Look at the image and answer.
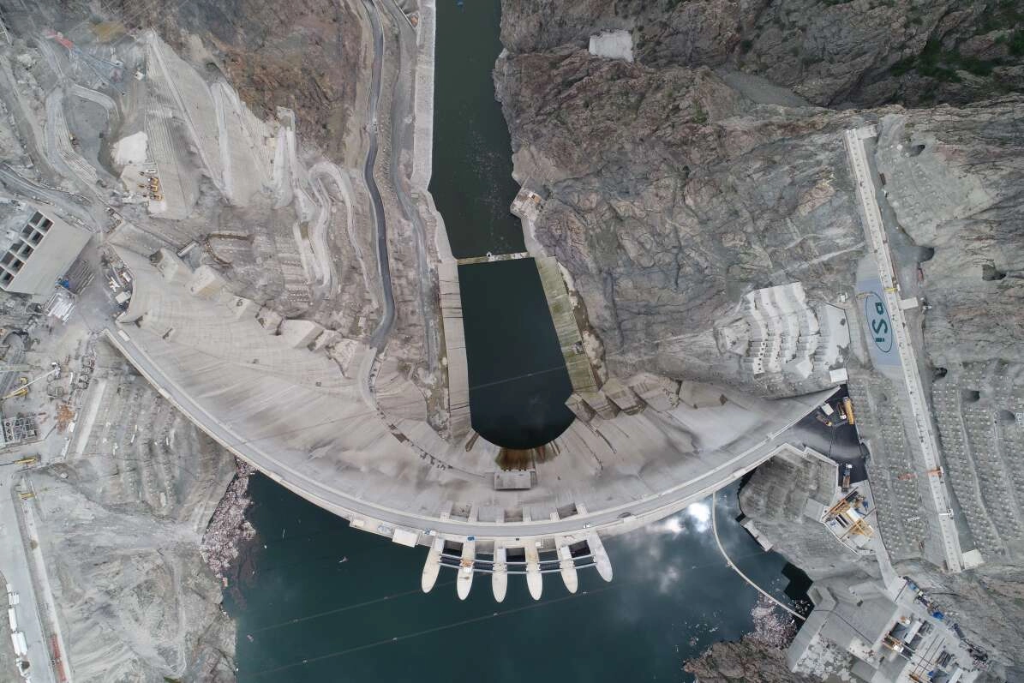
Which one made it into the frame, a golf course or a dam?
dam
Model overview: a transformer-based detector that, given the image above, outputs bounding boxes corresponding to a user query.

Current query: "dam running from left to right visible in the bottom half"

[105,245,841,602]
